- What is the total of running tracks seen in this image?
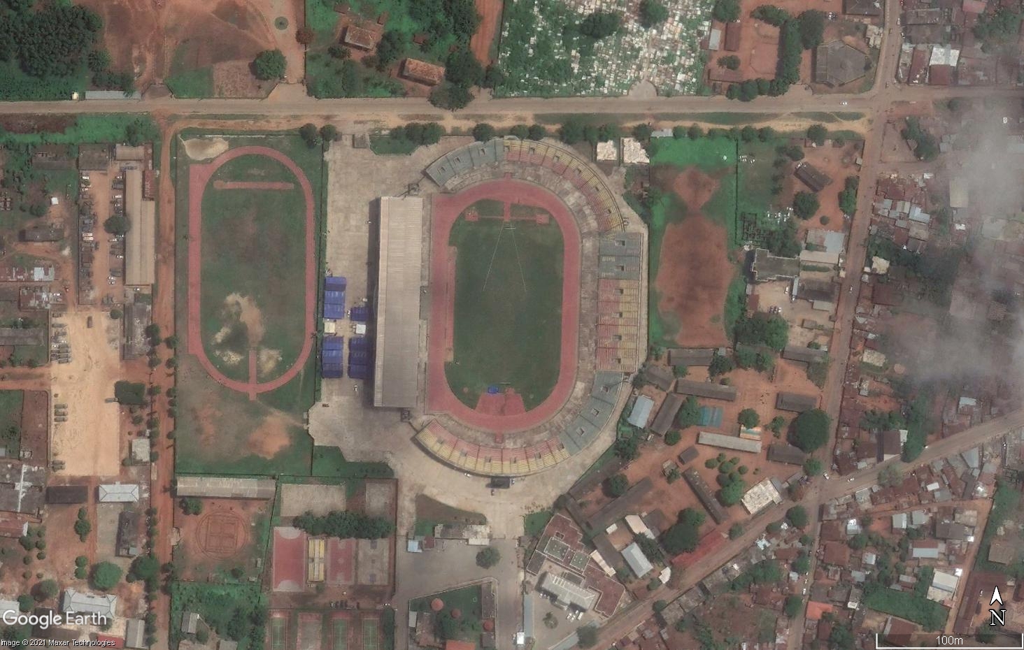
2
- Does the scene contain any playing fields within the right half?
Yes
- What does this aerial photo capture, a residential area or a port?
residential area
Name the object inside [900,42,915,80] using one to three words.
house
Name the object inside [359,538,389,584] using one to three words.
basketball court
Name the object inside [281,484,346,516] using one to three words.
sports court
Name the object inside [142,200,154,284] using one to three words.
building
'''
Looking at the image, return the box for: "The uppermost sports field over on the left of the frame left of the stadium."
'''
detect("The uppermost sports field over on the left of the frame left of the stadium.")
[201,154,306,383]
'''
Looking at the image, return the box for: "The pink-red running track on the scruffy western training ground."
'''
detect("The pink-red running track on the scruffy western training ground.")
[188,146,316,401]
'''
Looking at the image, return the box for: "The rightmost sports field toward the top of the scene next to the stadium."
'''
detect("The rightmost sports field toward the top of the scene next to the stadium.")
[650,135,734,347]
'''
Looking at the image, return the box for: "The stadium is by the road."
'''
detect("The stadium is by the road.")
[308,134,649,540]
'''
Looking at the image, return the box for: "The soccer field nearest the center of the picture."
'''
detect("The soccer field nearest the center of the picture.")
[444,199,564,411]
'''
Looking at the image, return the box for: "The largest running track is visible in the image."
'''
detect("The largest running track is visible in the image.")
[426,174,581,443]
